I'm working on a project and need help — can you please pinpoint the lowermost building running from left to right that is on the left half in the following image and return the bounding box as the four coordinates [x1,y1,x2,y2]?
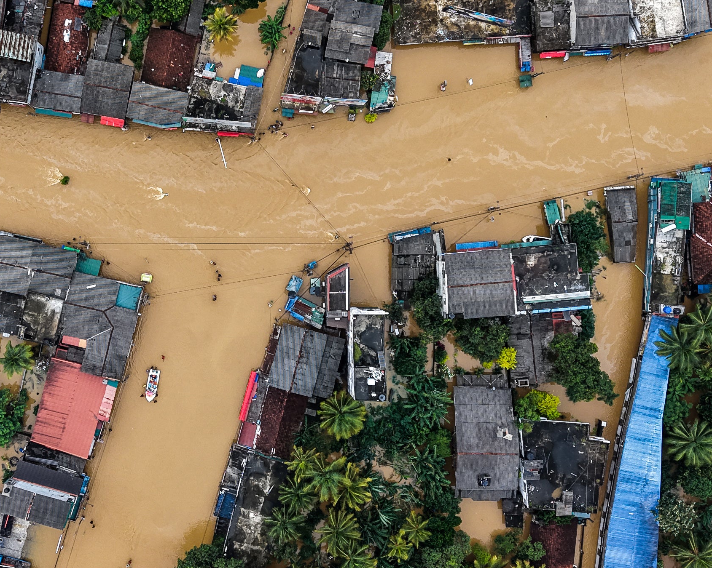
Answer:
[0,487,82,531]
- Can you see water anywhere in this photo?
Yes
